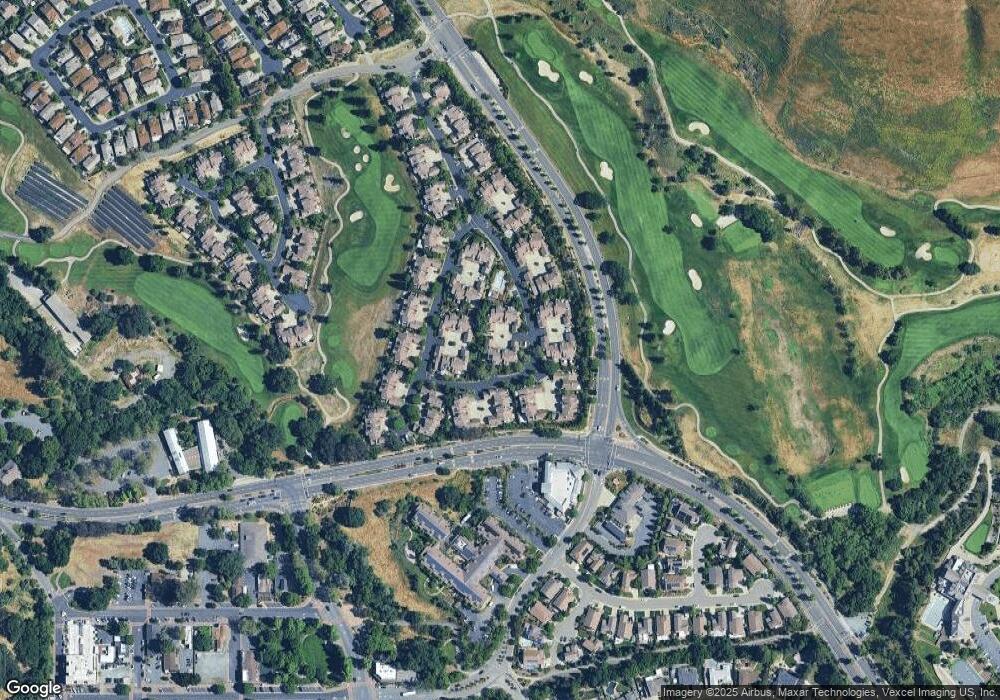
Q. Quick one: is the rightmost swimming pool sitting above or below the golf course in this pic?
below it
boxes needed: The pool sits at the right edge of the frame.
[921,593,950,631]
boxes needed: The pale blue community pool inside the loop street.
[112,16,135,46]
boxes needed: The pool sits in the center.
[492,276,505,297]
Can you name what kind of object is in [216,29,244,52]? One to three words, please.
house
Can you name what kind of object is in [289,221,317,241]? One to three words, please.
building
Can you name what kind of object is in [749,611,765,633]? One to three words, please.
house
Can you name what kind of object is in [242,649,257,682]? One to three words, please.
barn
